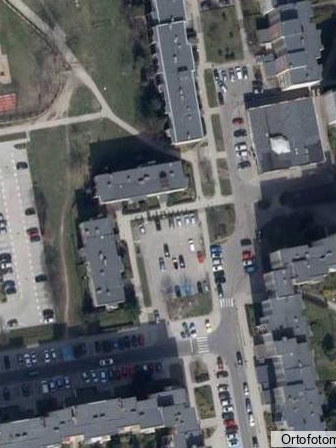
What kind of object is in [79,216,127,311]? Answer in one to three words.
building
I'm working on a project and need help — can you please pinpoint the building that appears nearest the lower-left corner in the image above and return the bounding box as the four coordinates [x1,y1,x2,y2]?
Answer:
[0,388,199,448]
